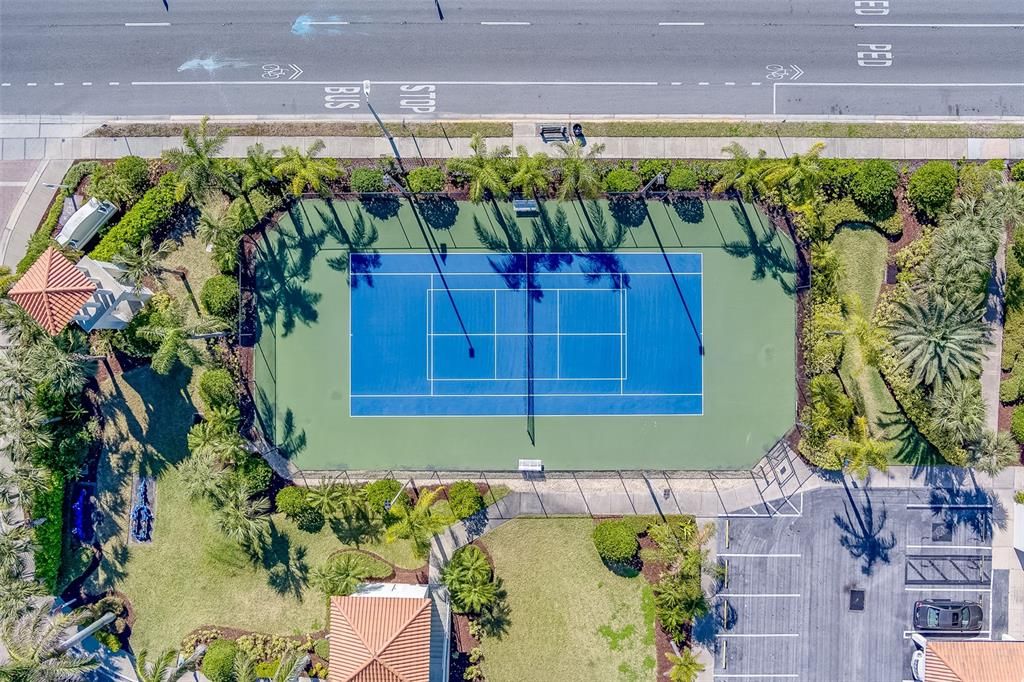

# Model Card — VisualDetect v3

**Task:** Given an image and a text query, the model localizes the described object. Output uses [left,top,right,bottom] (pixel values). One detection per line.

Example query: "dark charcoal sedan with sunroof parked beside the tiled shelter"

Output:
[912,600,983,634]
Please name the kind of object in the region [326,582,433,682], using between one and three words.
house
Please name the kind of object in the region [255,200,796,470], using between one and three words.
tennis court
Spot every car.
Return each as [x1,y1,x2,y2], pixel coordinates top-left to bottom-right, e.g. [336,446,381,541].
[912,600,983,634]
[911,645,923,675]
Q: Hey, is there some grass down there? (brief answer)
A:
Yes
